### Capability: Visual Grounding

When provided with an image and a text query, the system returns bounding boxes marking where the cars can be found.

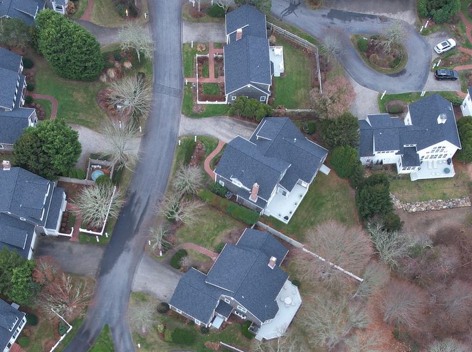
[432,67,460,81]
[432,38,458,55]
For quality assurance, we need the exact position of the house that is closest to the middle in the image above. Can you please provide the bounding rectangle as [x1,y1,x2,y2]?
[214,116,329,225]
